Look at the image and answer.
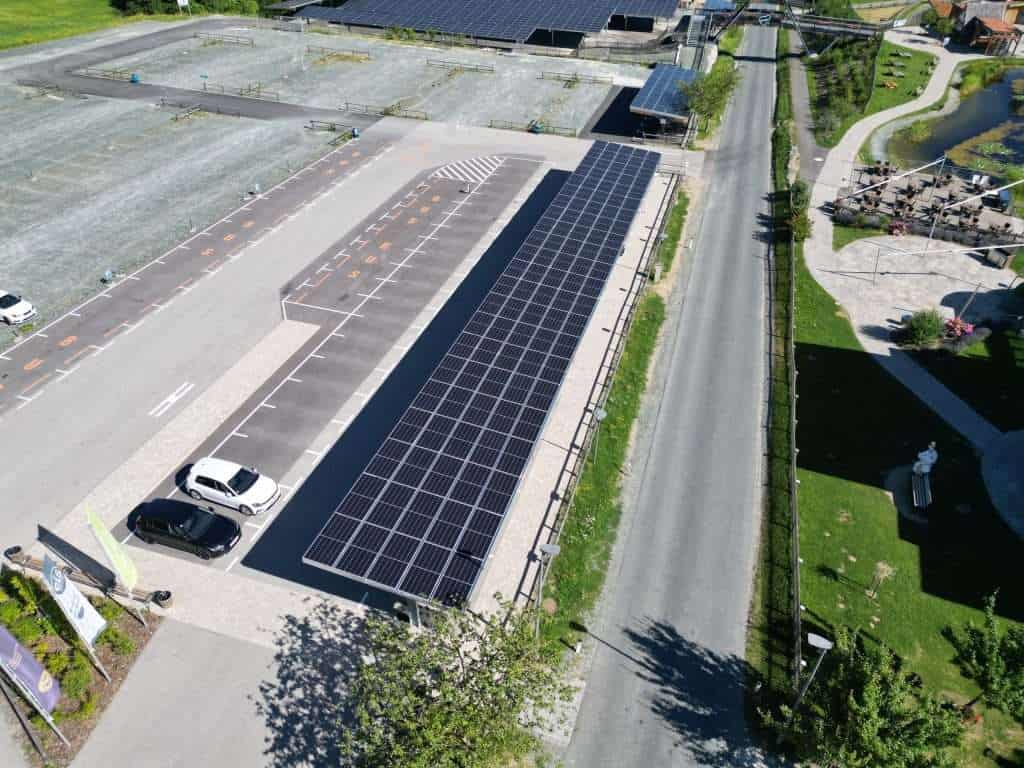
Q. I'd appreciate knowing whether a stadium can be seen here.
No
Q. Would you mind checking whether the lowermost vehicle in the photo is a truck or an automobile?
automobile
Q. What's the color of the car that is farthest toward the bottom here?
black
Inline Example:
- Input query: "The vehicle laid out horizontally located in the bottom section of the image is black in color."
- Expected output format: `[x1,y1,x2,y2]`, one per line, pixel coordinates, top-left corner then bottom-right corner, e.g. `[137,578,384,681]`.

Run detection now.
[122,496,238,564]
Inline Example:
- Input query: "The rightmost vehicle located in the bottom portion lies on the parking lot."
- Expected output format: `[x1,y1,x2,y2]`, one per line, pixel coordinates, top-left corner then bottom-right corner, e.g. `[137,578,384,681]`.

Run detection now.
[183,460,283,521]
